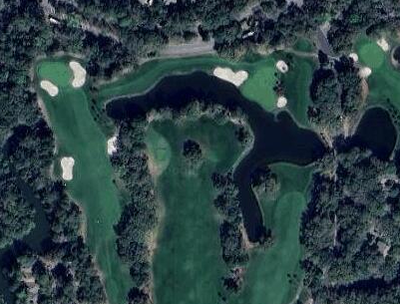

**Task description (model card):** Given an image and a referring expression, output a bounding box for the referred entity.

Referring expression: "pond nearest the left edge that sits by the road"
[103,71,327,243]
